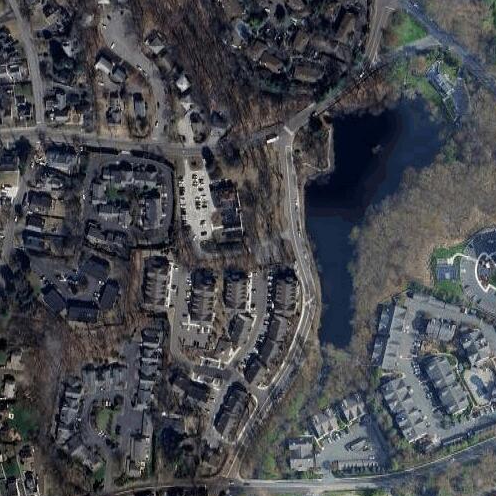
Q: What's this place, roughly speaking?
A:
residential area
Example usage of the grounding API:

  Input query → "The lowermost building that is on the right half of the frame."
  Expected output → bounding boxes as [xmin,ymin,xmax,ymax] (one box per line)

[289,440,314,471]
